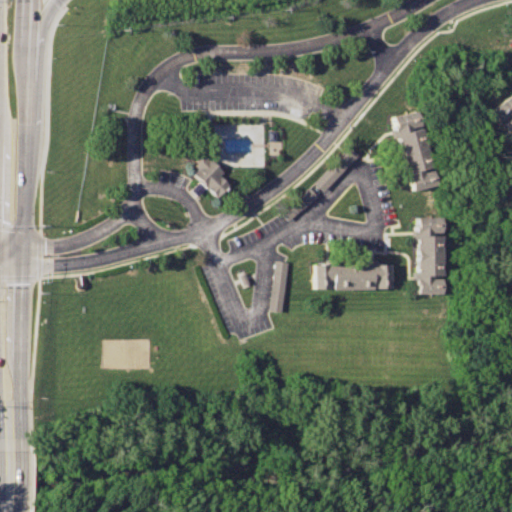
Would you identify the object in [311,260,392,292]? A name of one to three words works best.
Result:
building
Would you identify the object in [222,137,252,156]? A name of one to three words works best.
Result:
swimming pool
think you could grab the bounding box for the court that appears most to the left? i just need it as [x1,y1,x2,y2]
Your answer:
[100,339,150,370]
